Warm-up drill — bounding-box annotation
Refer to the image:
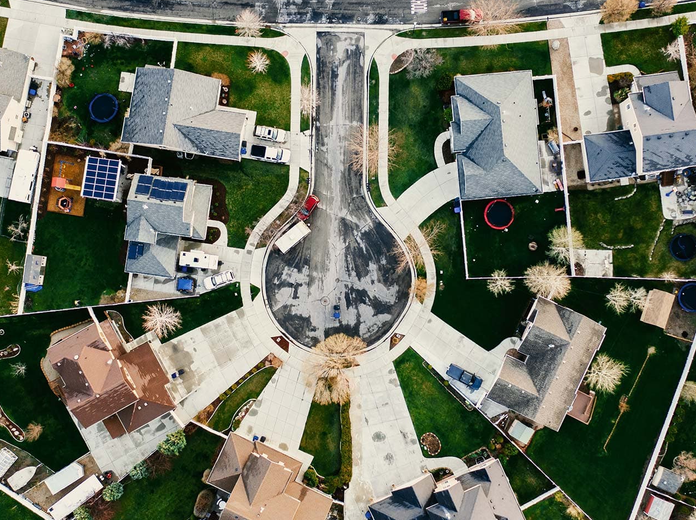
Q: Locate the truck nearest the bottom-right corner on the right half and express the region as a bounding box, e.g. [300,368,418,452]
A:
[445,363,483,390]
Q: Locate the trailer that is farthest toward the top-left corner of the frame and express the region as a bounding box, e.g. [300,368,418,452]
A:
[10,147,44,204]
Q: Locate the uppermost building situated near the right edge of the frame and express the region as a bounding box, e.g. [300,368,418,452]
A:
[580,71,696,182]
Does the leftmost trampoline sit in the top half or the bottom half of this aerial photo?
top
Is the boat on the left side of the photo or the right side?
left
